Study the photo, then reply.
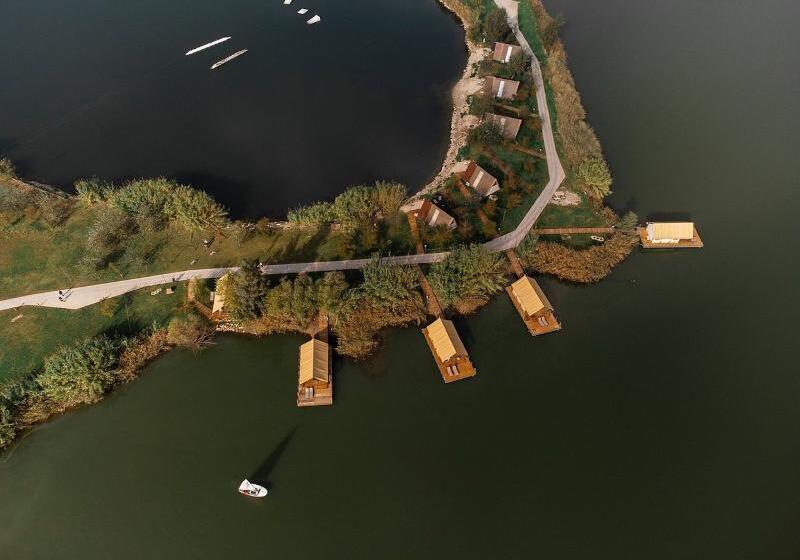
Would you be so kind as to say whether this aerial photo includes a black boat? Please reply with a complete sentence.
No, no black boat is visible in the view.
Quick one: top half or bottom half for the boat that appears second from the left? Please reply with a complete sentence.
Seen from above, the boat that appears second from the left lies in the bottom half of the view.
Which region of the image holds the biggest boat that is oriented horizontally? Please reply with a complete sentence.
Look in the right portion of the view to spot the biggest boat that is oriented horizontally.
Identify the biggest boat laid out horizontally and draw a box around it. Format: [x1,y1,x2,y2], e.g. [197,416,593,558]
[638,222,703,249]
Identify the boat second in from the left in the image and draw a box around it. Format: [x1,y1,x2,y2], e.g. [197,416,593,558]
[297,337,334,406]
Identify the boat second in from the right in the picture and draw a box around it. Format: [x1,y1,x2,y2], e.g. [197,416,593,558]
[505,274,562,337]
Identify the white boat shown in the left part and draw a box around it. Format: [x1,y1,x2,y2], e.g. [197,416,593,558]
[238,478,267,495]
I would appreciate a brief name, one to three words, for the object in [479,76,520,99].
building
